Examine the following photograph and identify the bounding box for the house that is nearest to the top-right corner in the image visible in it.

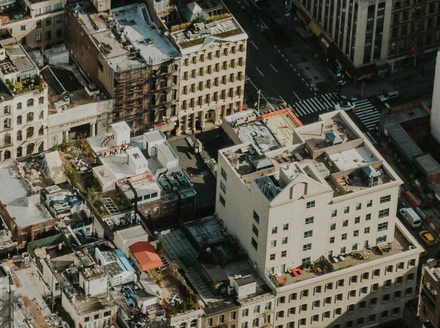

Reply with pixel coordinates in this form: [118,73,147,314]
[388,0,440,71]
